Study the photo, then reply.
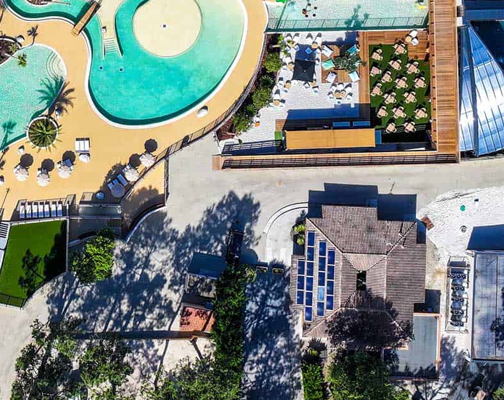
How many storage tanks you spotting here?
none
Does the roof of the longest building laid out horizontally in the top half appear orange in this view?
Yes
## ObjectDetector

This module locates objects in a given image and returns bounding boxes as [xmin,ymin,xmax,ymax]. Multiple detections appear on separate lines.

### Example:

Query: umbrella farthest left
[14,165,29,179]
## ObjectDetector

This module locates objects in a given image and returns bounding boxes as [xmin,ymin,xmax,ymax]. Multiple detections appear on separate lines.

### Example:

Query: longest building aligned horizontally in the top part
[277,119,376,149]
